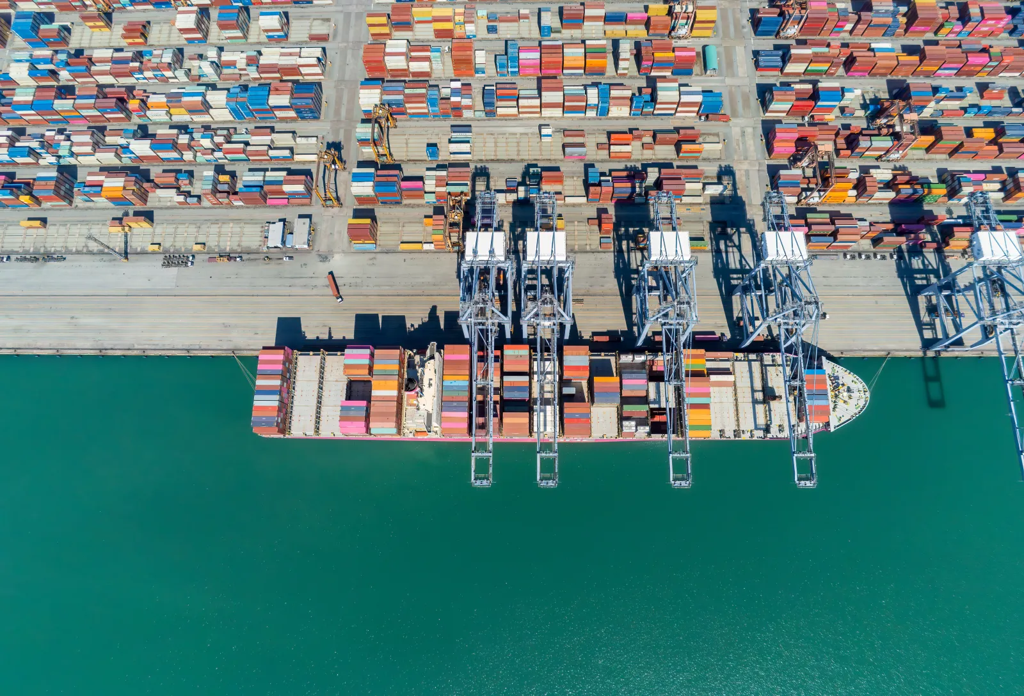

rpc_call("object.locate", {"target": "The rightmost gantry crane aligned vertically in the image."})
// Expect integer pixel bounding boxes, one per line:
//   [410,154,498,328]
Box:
[912,184,1024,472]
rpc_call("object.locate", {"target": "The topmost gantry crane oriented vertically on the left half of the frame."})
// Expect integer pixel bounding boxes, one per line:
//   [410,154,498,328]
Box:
[371,101,399,164]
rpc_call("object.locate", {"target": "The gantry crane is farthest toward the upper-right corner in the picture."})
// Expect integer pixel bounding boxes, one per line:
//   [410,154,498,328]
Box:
[883,97,932,162]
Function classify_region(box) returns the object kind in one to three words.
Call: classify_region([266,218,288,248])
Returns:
building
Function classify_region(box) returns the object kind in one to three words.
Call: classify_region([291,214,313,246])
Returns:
building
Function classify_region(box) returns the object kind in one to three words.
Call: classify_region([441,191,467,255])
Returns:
container crane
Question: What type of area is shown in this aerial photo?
port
